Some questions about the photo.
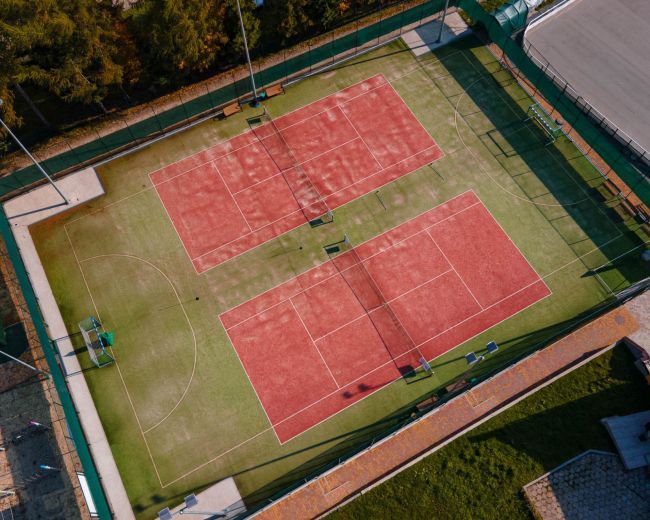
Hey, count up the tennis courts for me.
two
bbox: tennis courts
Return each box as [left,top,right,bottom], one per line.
[219,190,551,443]
[150,74,444,273]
